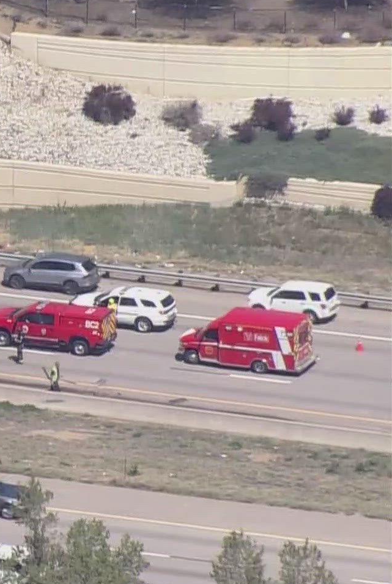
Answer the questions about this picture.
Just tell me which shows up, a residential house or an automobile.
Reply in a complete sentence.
I can see an automobile in this picture.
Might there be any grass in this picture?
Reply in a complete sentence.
Yes, grass shows up in the scene.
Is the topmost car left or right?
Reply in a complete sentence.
The topmost car is on the left side of the image.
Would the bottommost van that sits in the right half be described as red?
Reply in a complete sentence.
Yes, the bottommost van that sits in the right half is red.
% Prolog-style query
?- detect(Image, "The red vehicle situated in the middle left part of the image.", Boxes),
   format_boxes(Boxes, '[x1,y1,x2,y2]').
[0,299,116,356]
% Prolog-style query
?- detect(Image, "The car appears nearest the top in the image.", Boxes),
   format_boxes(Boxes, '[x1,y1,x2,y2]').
[0,249,102,294]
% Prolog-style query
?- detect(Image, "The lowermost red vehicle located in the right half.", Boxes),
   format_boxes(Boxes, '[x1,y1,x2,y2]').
[171,304,314,374]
